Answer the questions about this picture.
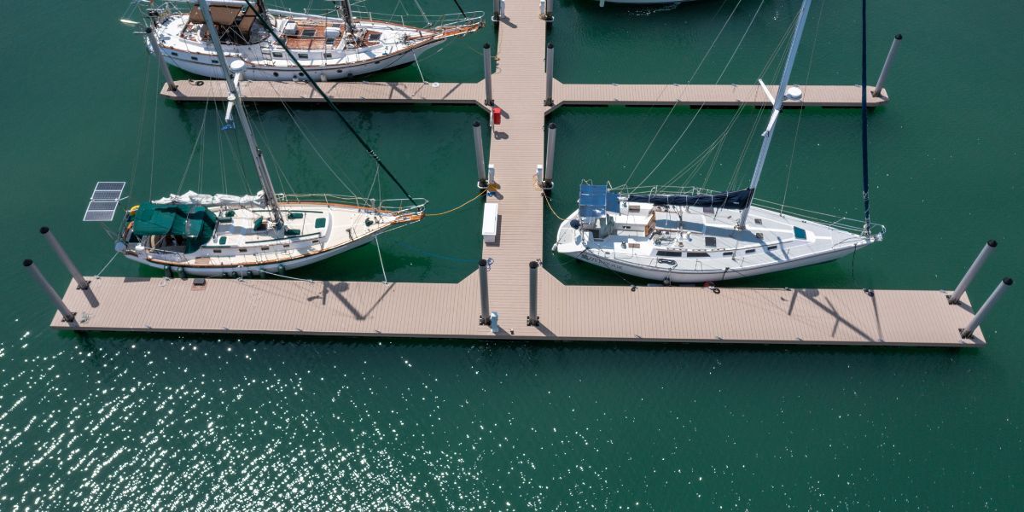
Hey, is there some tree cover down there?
No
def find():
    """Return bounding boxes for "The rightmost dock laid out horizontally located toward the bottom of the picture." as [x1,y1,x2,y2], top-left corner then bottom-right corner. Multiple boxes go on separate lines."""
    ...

[542,268,986,349]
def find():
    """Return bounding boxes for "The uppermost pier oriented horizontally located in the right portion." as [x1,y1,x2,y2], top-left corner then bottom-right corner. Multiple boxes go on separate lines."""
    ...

[542,75,886,116]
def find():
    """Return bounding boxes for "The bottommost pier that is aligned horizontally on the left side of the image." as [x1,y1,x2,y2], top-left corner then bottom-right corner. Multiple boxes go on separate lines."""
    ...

[50,271,478,339]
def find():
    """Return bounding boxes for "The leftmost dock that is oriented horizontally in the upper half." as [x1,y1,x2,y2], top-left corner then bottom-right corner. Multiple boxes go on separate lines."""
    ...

[163,74,495,114]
